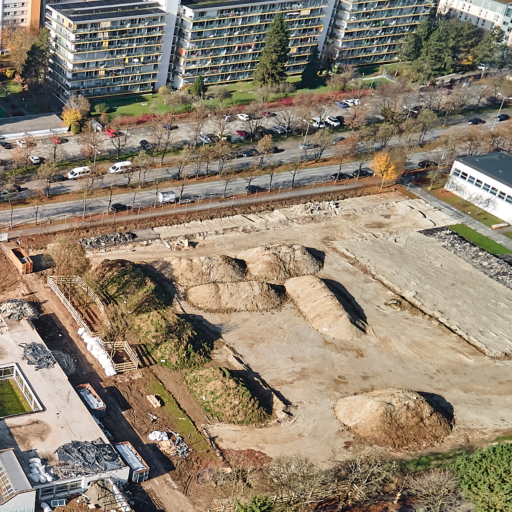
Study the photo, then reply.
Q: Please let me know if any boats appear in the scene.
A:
No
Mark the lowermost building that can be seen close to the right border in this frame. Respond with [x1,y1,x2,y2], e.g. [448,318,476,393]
[442,150,512,227]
